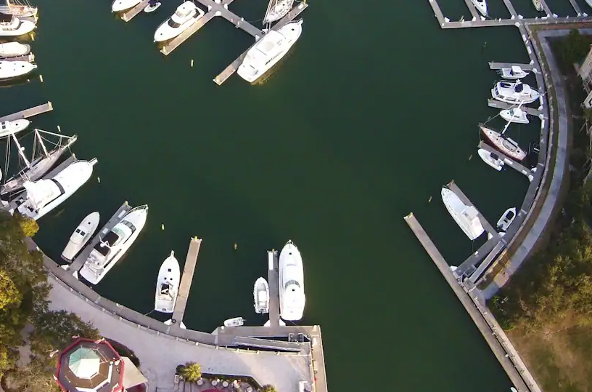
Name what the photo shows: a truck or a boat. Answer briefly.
boat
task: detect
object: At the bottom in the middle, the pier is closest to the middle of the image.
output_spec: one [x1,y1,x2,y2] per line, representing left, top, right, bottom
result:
[260,251,289,327]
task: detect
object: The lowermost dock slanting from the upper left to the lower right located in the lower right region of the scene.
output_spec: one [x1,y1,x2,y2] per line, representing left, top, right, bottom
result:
[403,215,531,392]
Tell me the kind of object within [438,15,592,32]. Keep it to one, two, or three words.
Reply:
pier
